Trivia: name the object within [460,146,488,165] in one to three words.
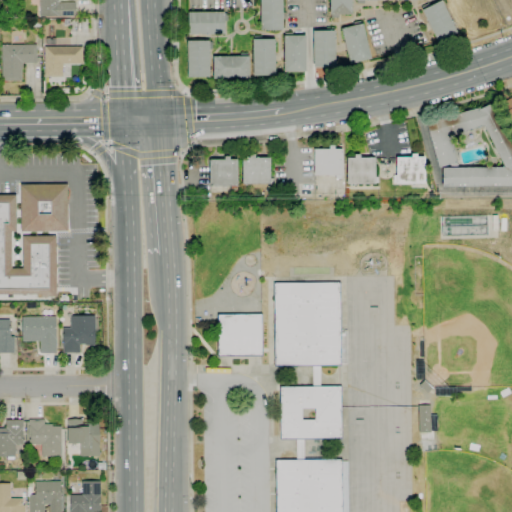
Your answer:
swimming pool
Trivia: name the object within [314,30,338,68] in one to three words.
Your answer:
building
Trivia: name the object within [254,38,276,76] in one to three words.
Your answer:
building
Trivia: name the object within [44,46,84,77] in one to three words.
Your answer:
house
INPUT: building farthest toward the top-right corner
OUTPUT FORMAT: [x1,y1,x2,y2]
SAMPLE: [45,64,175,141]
[424,0,458,38]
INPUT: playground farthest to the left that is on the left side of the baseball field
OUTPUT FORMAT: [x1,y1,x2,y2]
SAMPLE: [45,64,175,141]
[194,249,262,318]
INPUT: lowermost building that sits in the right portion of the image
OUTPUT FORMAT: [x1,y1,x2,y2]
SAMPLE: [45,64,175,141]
[276,460,343,512]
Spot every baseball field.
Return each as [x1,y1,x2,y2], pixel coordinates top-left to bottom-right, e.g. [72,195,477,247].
[424,245,512,386]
